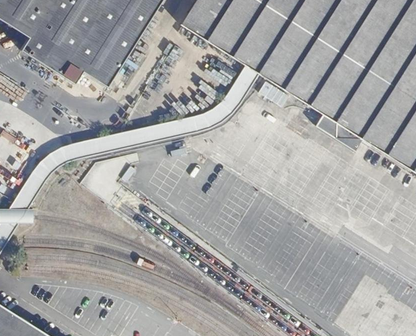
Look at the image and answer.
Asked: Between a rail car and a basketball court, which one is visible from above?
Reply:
rail car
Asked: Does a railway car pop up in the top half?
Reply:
No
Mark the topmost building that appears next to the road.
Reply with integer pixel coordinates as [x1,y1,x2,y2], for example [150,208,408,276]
[0,0,164,86]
